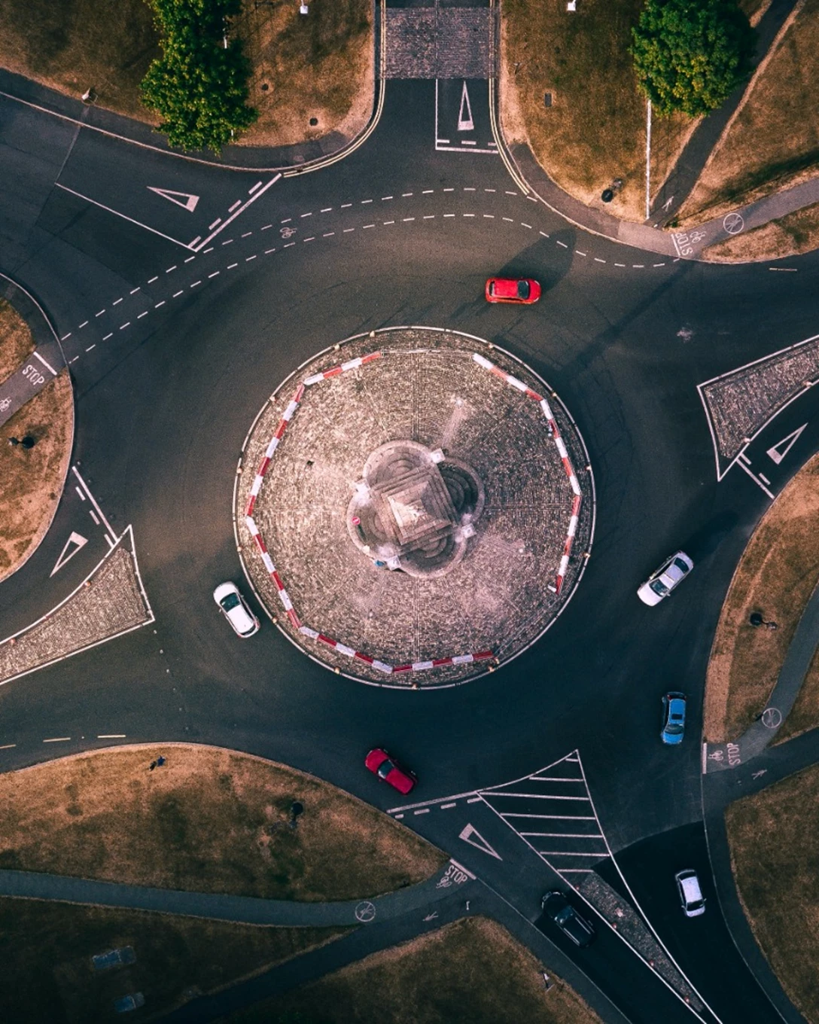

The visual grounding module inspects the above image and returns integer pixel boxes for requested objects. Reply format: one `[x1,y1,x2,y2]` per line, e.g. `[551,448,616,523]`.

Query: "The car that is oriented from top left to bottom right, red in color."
[366,749,417,796]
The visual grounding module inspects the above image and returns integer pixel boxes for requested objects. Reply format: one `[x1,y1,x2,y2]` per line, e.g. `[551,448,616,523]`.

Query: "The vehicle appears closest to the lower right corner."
[675,867,706,914]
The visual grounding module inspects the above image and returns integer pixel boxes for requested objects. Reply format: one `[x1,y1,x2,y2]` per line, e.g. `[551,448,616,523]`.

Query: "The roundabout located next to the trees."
[62,189,725,818]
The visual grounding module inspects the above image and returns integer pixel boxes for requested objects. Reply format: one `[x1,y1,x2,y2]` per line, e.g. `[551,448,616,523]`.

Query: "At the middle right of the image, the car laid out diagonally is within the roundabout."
[641,552,693,603]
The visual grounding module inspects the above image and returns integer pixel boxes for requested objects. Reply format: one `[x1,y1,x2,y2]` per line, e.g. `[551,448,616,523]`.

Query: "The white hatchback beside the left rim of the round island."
[217,583,258,637]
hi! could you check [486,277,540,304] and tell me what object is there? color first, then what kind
red car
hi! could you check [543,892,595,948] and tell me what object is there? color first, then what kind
black car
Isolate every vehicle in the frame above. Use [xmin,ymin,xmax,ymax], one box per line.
[661,692,687,743]
[543,892,595,948]
[675,867,706,914]
[641,552,693,603]
[217,583,258,637]
[486,277,540,304]
[366,749,417,796]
